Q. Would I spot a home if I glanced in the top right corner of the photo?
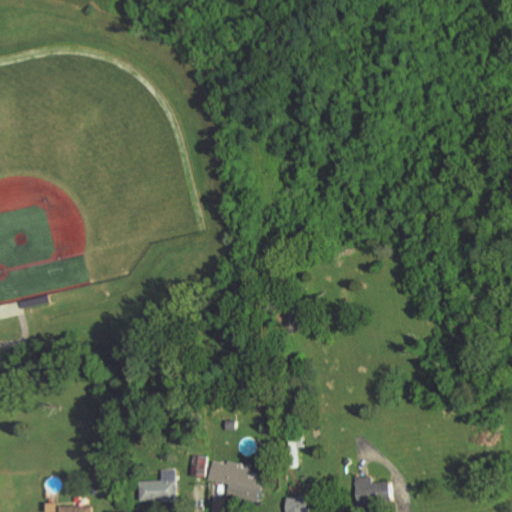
No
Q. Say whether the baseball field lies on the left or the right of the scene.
left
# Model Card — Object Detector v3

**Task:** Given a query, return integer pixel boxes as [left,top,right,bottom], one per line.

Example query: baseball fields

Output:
[0,46,204,304]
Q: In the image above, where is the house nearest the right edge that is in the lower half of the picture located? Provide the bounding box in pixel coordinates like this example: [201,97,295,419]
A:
[354,476,395,502]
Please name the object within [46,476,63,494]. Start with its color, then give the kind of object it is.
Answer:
blue swimming pool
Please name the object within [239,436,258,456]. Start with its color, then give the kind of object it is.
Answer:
blue swimming pool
